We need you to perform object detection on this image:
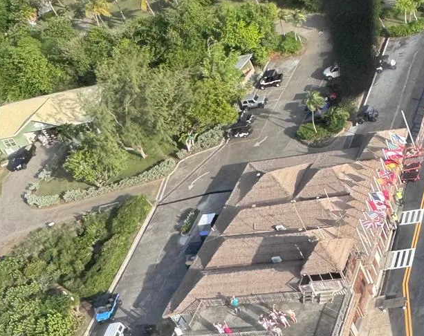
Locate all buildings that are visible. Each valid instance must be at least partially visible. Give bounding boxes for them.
[0,56,110,157]
[165,122,409,336]
[227,52,254,85]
